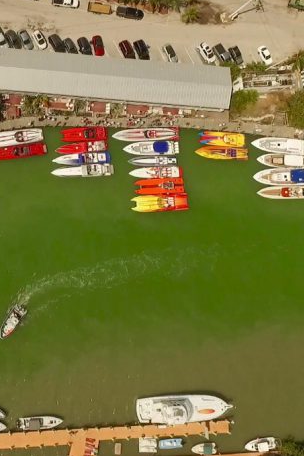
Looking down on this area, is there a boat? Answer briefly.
Yes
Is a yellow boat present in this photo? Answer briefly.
Yes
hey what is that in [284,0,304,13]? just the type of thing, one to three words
vehicle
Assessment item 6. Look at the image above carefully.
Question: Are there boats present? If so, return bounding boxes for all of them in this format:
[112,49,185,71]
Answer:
[60,127,109,142]
[243,436,285,453]
[249,137,304,155]
[189,441,218,456]
[50,163,115,177]
[0,128,46,149]
[128,165,185,177]
[251,167,304,186]
[134,394,233,434]
[255,185,304,199]
[122,139,181,155]
[51,151,113,165]
[111,127,181,140]
[133,176,186,192]
[197,130,248,147]
[16,416,64,431]
[129,193,191,212]
[0,306,25,339]
[0,143,49,160]
[193,146,250,160]
[55,140,109,154]
[158,438,189,451]
[127,155,180,166]
[255,154,304,168]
